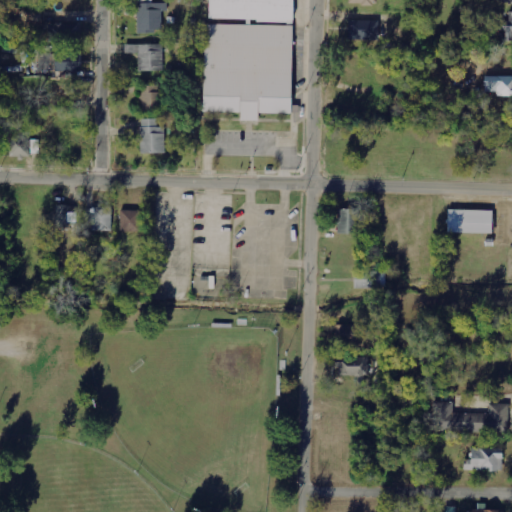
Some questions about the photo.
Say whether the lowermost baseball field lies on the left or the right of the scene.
left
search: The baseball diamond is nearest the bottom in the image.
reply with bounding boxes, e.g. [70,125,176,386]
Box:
[0,438,171,512]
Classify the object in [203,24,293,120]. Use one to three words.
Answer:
building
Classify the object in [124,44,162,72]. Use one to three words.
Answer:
house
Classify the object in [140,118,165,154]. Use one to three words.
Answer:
house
